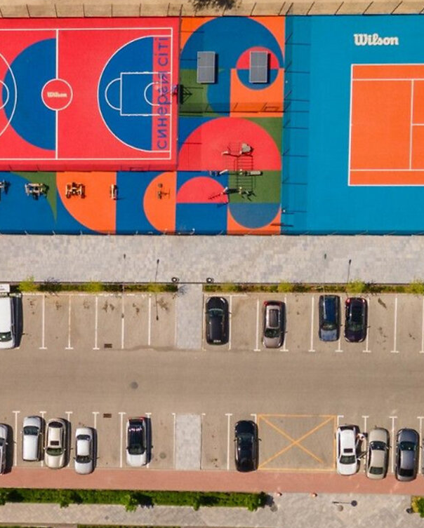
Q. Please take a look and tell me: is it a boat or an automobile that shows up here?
automobile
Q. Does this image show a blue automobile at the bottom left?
No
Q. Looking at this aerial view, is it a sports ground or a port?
sports ground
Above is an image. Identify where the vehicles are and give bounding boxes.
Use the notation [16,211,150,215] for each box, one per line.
[335,426,366,474]
[20,416,43,461]
[72,427,95,473]
[203,296,230,346]
[125,418,148,466]
[343,297,368,343]
[365,429,390,479]
[394,429,420,480]
[0,424,9,473]
[317,295,341,342]
[44,420,69,468]
[0,283,18,347]
[234,421,259,471]
[262,299,286,348]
